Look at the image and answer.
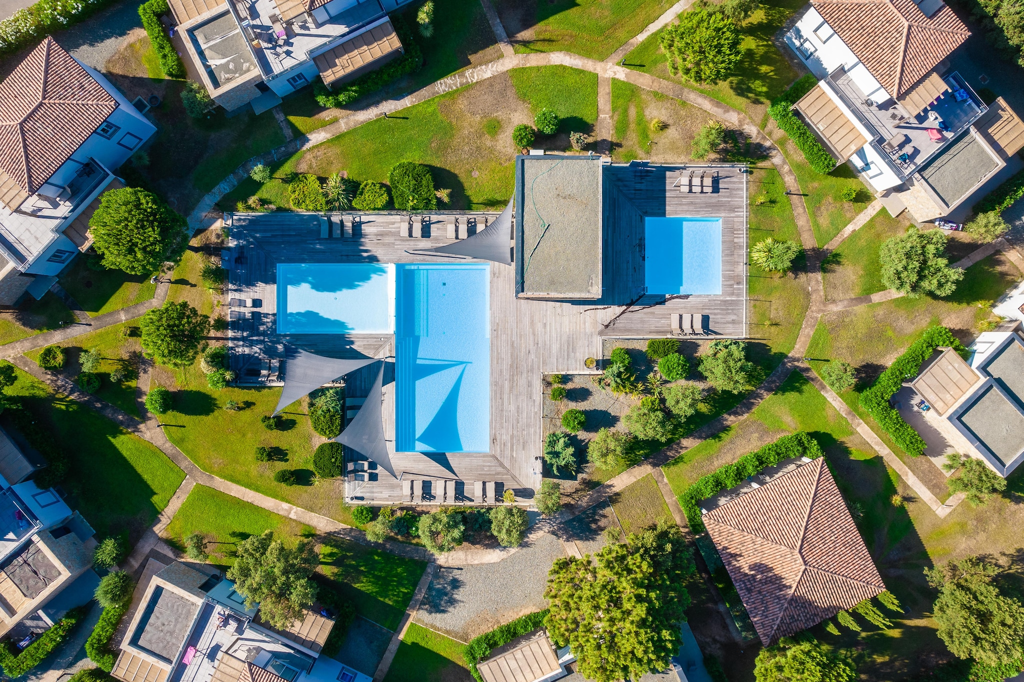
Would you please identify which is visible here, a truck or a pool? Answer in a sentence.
This aerial view contains a pool.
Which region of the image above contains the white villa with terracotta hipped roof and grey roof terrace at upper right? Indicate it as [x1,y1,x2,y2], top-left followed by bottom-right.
[783,0,1001,218]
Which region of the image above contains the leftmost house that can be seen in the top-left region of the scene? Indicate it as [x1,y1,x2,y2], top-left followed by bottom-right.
[0,35,154,302]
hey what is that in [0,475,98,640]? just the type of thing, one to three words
house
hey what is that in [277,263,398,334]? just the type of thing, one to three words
swimming pool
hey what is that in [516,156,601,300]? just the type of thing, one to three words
building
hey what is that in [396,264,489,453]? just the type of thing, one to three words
swimming pool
